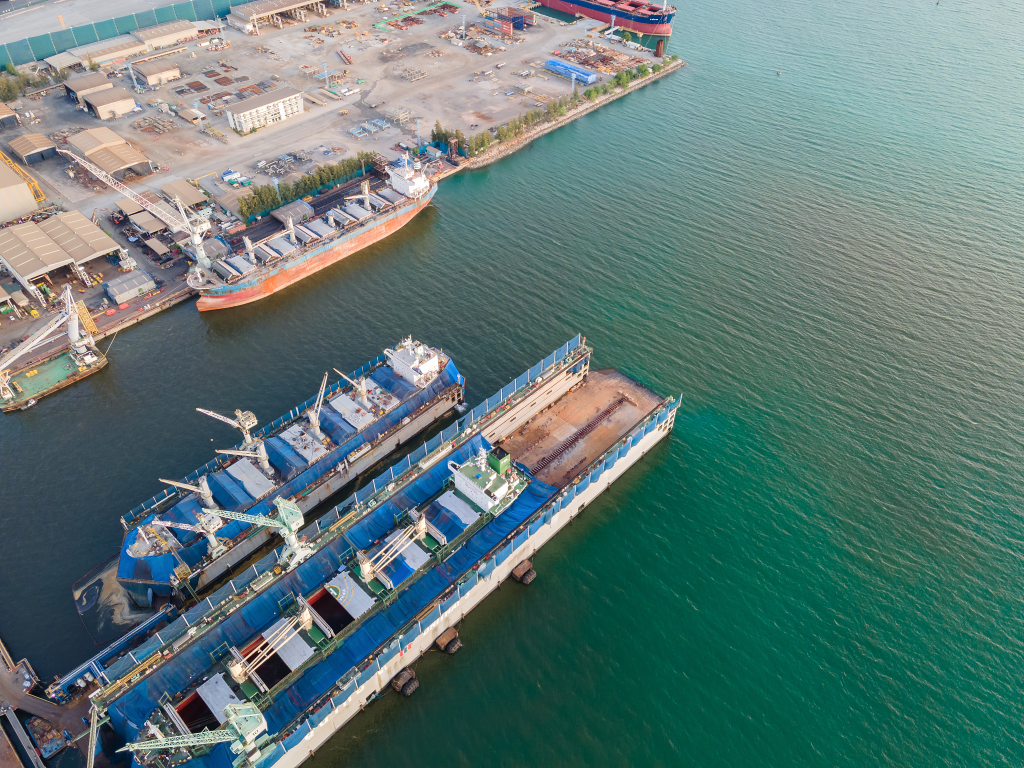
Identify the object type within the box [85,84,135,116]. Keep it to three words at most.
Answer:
building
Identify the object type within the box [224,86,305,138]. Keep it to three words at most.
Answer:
building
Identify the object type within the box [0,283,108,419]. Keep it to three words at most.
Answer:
ship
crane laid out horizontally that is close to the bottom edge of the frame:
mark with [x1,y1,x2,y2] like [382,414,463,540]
[123,712,267,768]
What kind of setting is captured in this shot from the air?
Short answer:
port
